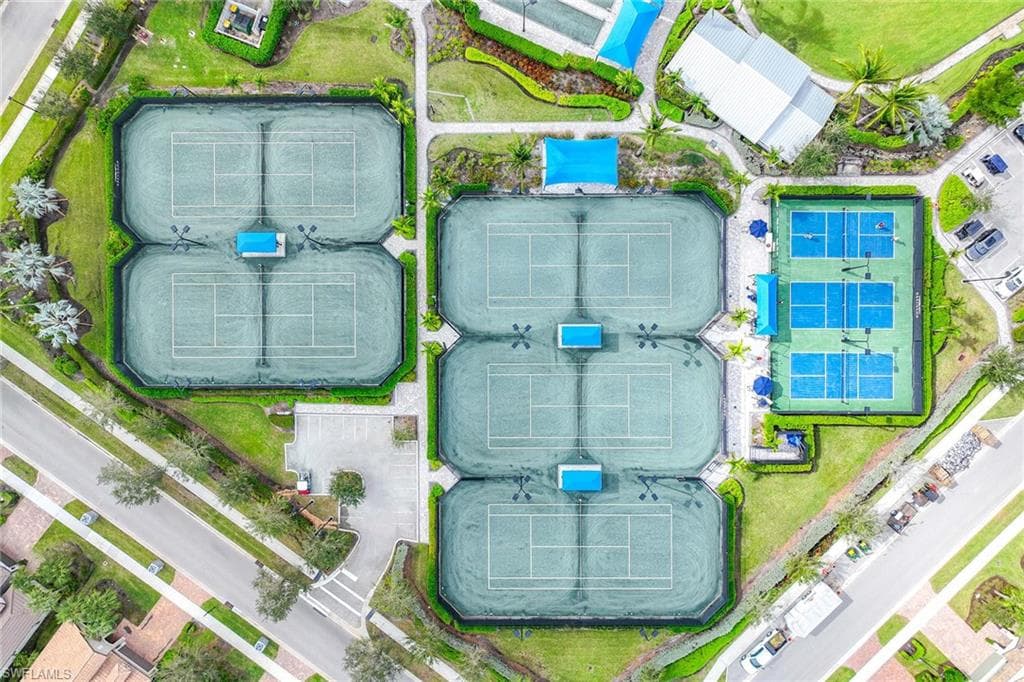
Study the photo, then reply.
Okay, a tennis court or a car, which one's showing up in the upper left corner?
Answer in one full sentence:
The one visible in the upper left corner is a tennis court.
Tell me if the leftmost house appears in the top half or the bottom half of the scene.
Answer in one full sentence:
The leftmost house is in the bottom half of the image.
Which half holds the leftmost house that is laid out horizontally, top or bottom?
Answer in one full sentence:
Seen from above, the leftmost house that is laid out horizontally lies in the bottom half of the view.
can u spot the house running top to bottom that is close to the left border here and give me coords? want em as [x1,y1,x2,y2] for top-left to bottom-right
[0,552,52,677]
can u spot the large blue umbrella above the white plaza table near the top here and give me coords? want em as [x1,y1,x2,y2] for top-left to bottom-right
[747,219,767,239]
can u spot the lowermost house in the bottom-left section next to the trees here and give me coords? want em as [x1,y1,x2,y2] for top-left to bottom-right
[18,622,158,682]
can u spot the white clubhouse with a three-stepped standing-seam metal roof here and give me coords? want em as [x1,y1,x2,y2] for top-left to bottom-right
[665,10,837,165]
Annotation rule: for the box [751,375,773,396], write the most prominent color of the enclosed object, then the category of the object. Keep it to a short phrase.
blue umbrella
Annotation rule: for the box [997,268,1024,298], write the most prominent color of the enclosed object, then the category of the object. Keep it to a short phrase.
white car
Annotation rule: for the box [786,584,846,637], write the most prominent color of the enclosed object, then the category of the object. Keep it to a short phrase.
white trailer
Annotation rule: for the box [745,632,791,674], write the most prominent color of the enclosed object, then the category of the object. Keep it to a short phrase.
white truck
